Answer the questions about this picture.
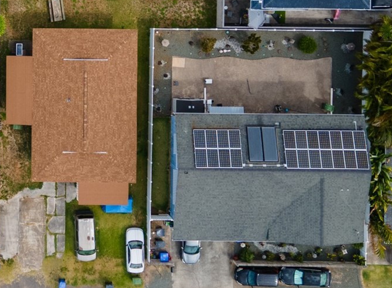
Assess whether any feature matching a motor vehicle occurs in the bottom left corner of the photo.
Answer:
Yes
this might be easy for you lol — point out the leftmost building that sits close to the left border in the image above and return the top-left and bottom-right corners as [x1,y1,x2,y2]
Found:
[7,28,138,205]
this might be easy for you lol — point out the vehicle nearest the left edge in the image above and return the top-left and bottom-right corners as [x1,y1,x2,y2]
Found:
[74,207,99,261]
